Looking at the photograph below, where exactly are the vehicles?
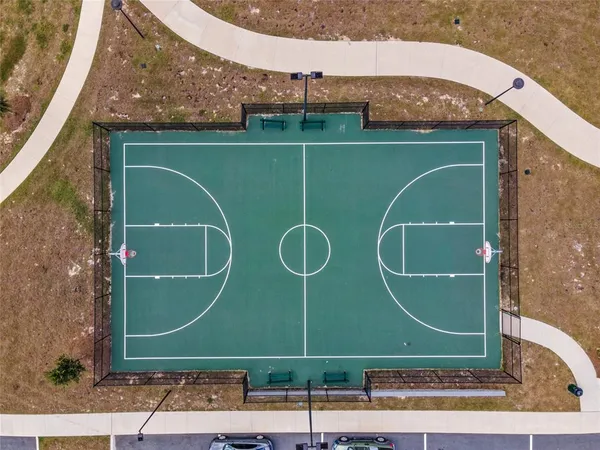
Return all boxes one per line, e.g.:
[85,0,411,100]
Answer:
[210,435,275,450]
[330,436,397,450]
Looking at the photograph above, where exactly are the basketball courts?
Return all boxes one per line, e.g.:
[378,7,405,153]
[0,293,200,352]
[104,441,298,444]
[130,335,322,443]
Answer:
[109,112,502,389]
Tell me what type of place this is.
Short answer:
sports ground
